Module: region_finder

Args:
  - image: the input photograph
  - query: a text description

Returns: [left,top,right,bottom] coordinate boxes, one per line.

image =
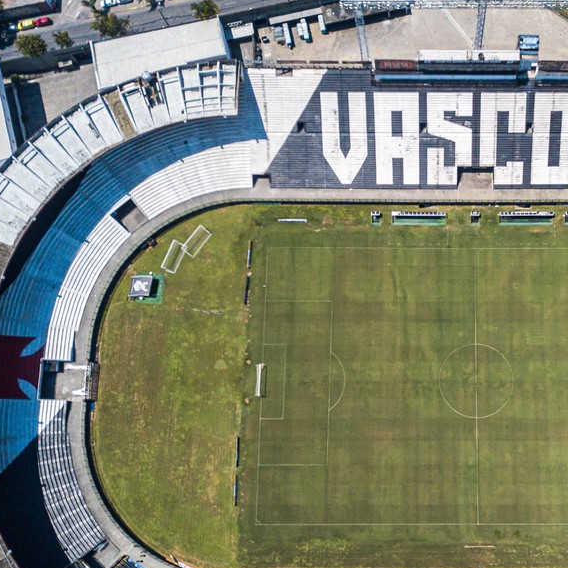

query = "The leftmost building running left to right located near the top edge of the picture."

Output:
[89,16,232,92]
